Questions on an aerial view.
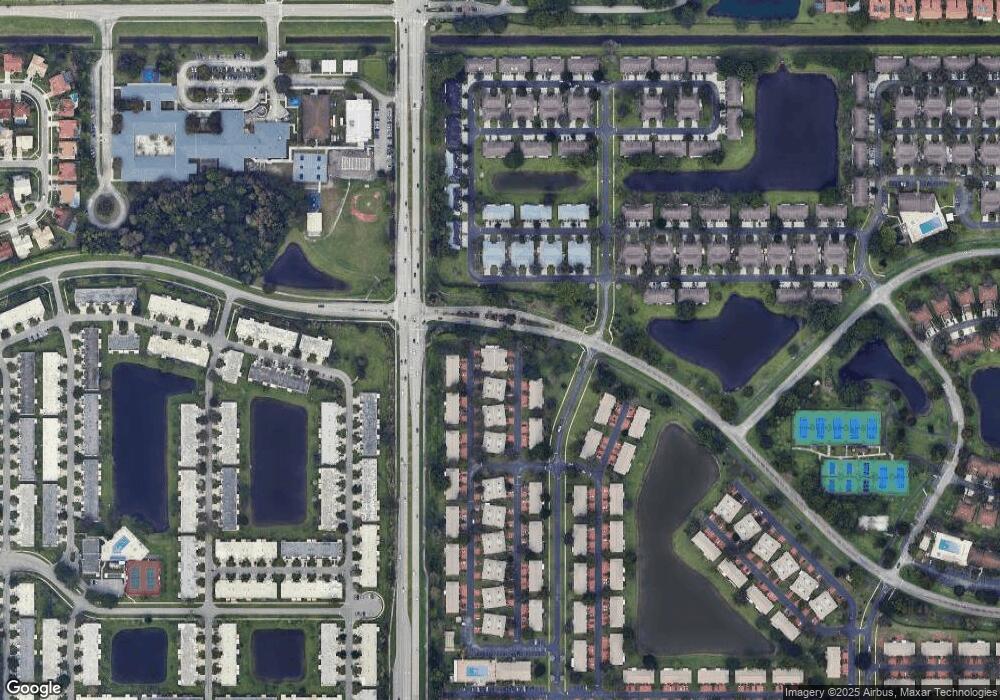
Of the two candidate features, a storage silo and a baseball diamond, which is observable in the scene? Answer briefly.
baseball diamond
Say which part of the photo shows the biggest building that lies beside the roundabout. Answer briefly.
top left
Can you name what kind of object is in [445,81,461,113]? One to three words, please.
house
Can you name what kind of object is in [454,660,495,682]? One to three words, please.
swimming pool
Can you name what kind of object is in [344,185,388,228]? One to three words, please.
baseball field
